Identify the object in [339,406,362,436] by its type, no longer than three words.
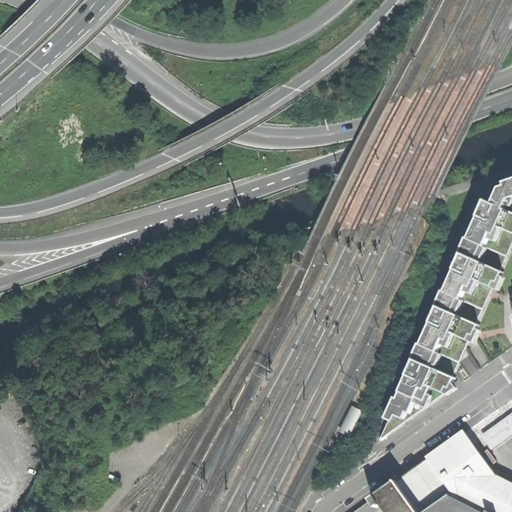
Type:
shed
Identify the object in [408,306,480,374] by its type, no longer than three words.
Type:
building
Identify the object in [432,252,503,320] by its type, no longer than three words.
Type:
building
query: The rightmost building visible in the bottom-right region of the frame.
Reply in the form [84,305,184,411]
[476,412,512,470]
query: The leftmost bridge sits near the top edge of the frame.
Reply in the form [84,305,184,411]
[0,0,131,84]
